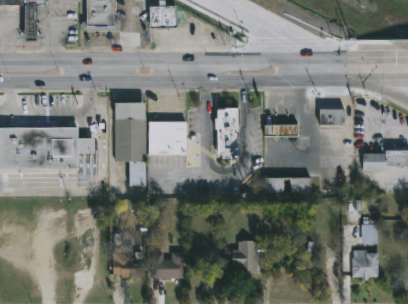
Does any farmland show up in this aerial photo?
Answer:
No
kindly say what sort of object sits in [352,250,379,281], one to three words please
house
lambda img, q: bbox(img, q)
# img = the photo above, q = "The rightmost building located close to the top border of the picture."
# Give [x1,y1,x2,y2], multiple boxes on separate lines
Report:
[150,1,178,29]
